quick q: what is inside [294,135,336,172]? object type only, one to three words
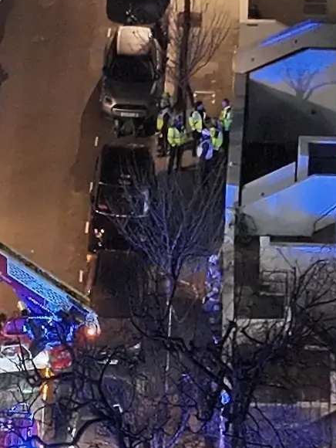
building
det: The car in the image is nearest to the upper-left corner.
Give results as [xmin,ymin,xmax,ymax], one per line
[101,21,167,113]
